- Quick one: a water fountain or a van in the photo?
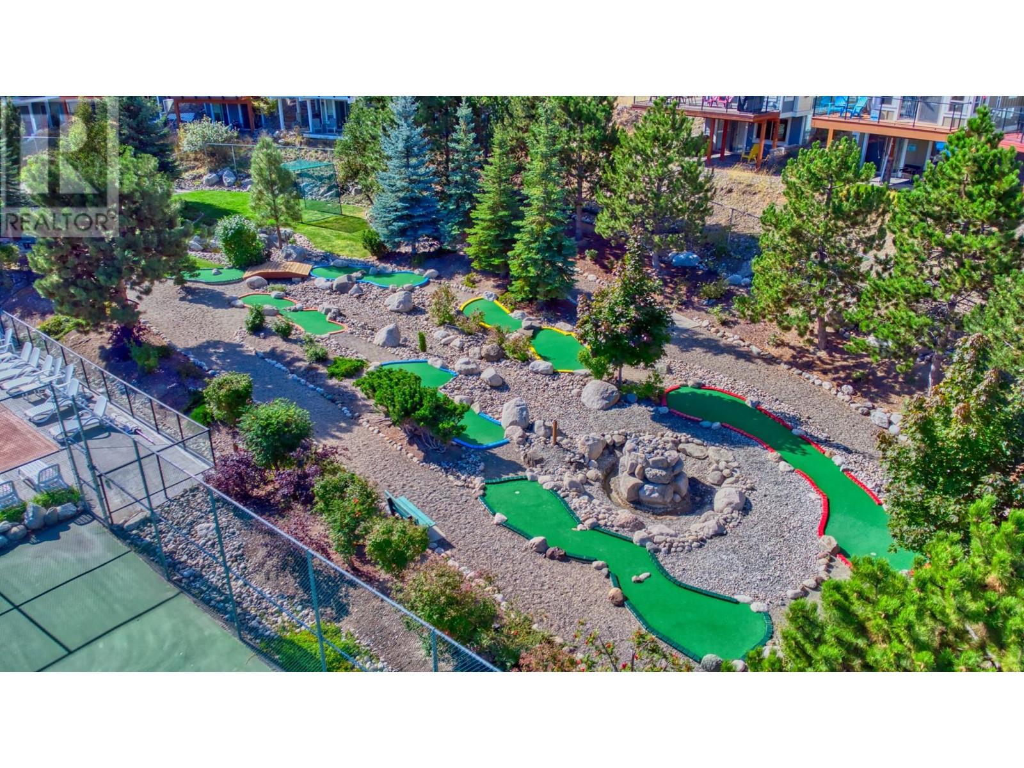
water fountain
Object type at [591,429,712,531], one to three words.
fountain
